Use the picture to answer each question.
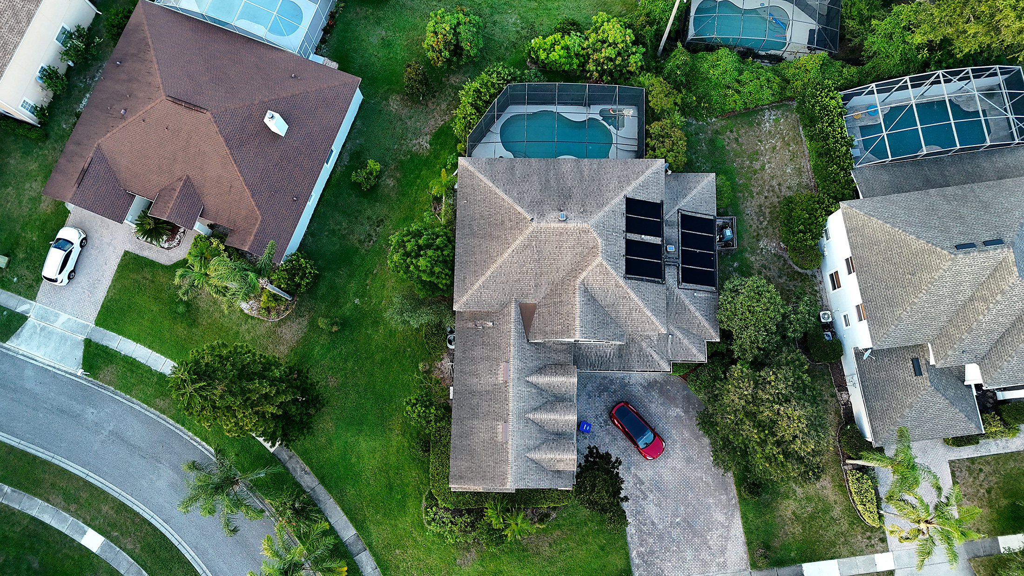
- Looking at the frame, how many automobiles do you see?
2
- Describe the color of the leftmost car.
white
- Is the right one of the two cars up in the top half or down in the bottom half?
bottom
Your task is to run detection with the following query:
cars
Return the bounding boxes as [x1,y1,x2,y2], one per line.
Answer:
[606,396,666,465]
[38,226,87,288]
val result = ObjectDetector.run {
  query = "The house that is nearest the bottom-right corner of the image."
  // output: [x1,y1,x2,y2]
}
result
[819,145,1024,448]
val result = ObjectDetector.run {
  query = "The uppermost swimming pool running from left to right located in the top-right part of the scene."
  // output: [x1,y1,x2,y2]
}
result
[689,0,844,58]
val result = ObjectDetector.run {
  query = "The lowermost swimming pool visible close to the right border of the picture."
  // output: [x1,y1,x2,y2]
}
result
[847,80,1024,173]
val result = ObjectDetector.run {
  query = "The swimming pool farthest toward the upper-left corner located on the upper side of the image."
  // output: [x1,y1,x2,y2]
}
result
[173,0,348,63]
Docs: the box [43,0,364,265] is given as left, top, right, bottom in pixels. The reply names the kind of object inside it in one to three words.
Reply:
house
